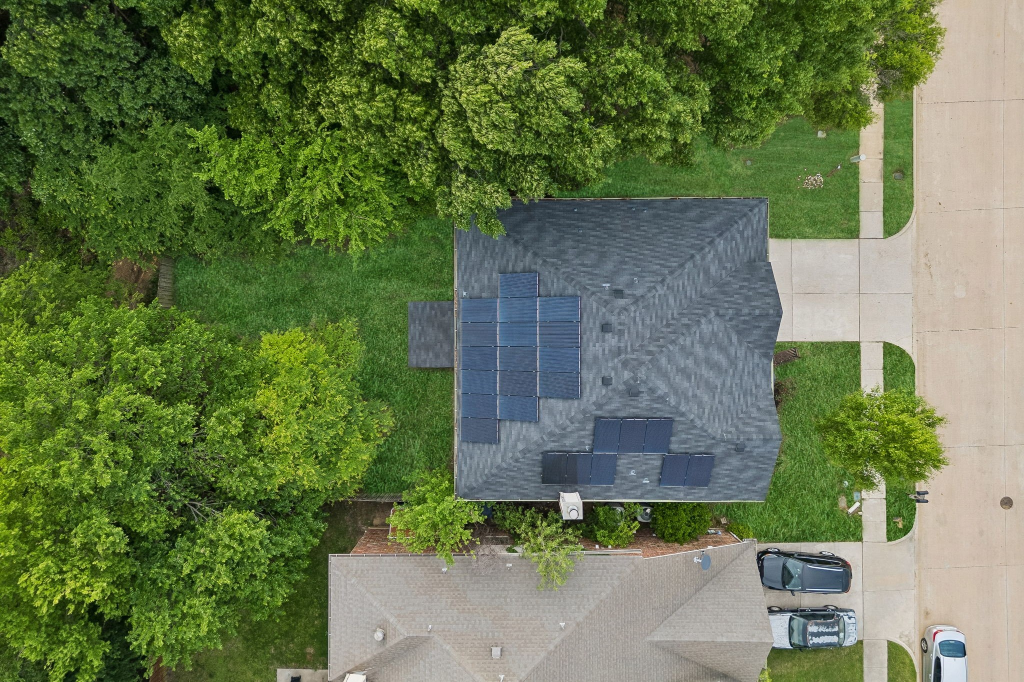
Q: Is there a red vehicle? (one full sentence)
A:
No, no red vehicle is visible in the scene.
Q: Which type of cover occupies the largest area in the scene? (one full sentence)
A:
What you mostly see from above here is trees.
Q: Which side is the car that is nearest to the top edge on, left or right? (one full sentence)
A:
It is on the right.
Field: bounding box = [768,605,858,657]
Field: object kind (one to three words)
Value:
car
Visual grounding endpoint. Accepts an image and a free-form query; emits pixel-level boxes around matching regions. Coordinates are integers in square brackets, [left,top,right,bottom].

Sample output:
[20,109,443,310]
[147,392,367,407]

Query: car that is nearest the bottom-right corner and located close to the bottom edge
[920,624,972,682]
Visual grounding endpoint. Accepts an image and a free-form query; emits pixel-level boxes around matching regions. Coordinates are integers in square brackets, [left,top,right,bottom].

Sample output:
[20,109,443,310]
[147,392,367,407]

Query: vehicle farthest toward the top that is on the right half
[759,545,859,598]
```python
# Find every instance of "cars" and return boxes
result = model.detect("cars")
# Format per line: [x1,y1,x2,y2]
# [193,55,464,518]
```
[759,545,859,598]
[920,624,972,682]
[768,605,858,657]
